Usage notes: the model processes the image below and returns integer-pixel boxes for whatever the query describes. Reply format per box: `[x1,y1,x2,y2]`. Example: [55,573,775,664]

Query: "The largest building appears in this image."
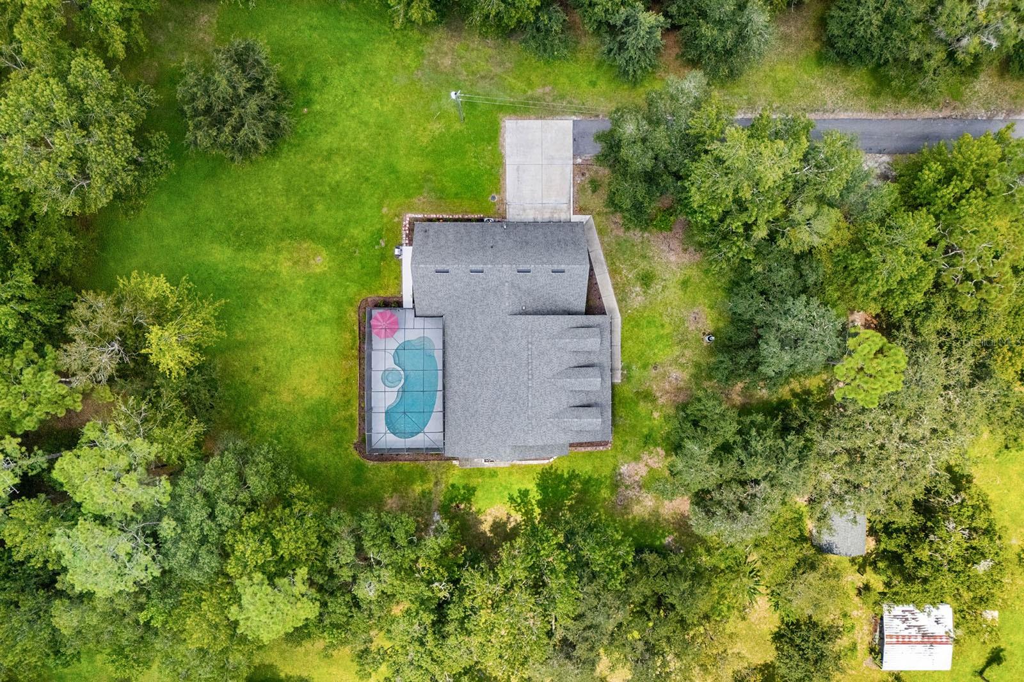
[411,221,613,460]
